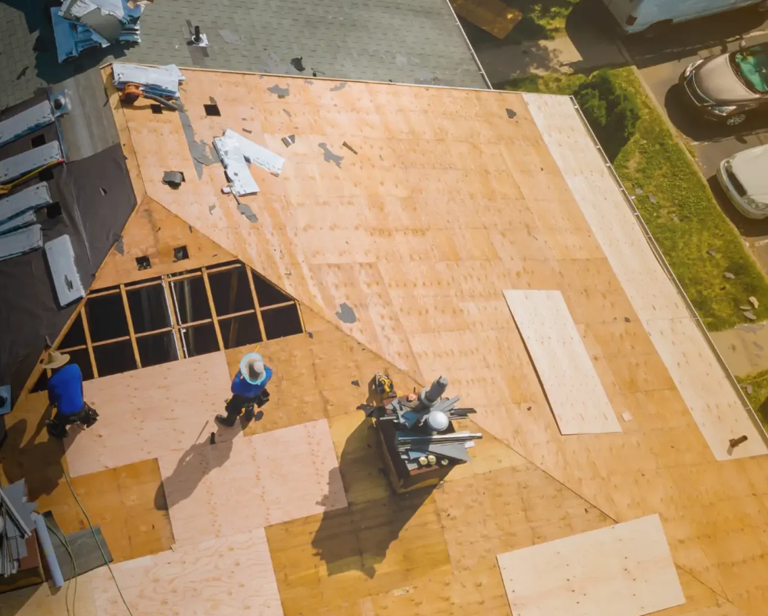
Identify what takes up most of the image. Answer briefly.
buildings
